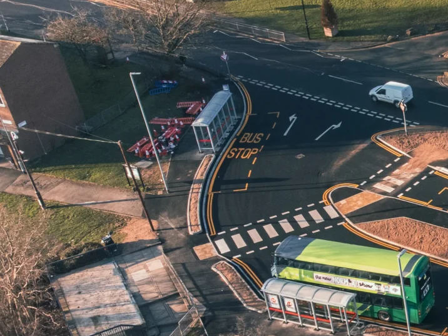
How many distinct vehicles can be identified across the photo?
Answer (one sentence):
My tally gives 2 vehicles in this view.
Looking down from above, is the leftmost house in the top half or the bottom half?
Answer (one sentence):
Seen from above, the leftmost house lies in the top half of the view.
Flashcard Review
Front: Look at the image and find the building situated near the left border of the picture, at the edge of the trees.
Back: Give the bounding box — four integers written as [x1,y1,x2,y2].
[0,29,82,167]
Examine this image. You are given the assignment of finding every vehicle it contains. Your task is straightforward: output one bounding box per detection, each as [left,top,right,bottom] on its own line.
[367,82,418,112]
[267,229,434,321]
